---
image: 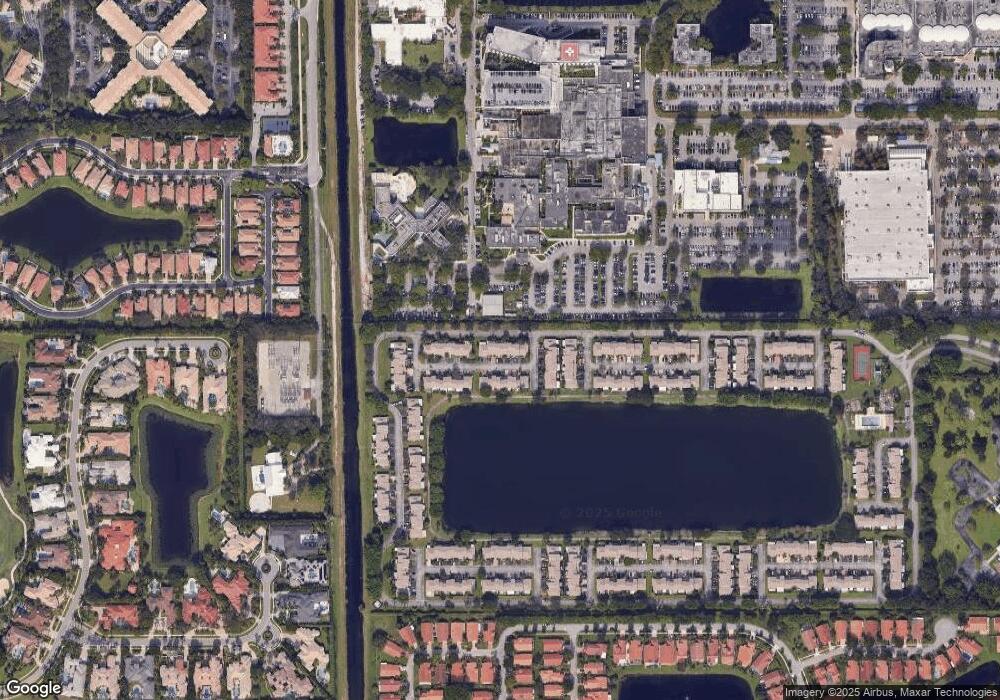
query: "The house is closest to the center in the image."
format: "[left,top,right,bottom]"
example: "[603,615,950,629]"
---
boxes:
[479,340,528,359]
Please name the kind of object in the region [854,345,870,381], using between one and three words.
sports court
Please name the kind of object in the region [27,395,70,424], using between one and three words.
house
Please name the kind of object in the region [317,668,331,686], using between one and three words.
swimming pool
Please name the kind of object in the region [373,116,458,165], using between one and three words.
pond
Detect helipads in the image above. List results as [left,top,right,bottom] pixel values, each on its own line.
[561,42,579,61]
